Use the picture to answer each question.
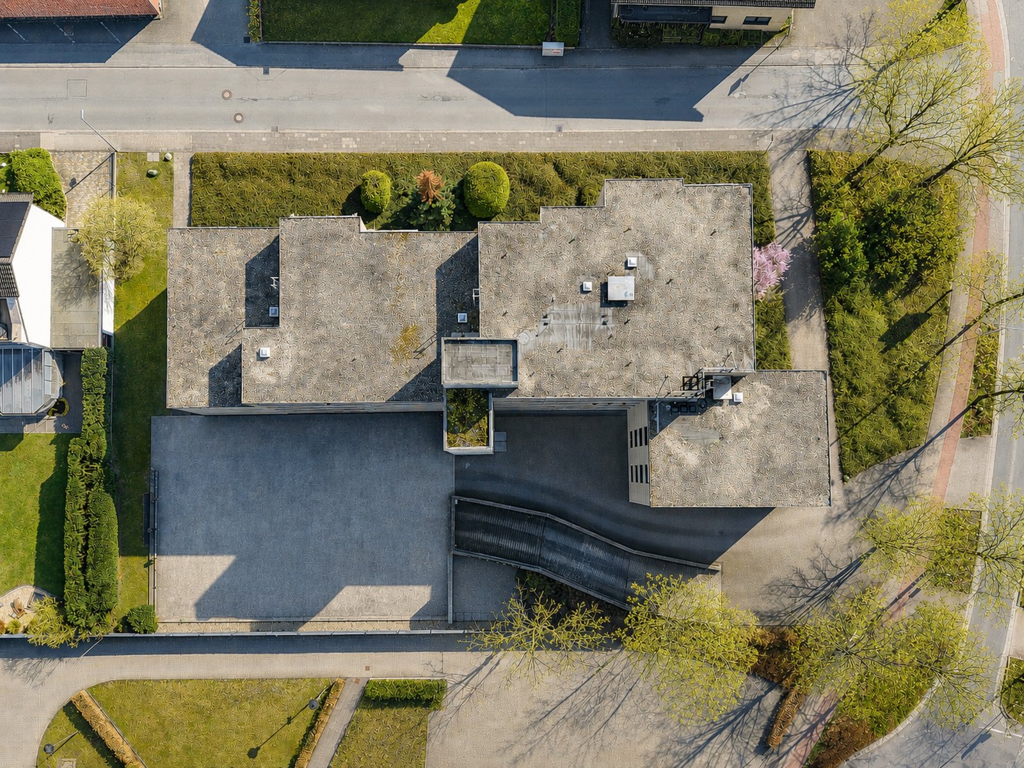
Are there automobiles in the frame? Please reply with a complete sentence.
No, there appears to be no automobile in this shot.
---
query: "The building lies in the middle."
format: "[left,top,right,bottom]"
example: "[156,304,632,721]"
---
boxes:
[166,178,831,507]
